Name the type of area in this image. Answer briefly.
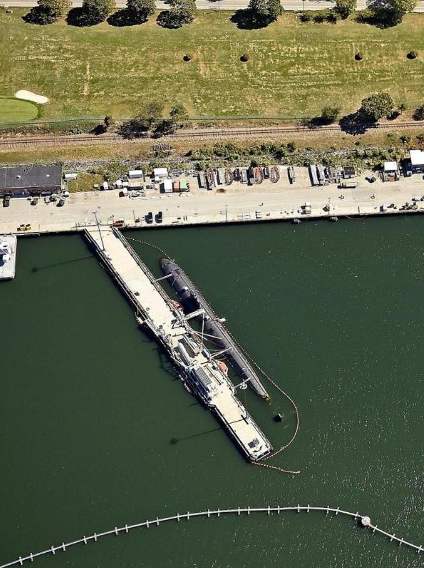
port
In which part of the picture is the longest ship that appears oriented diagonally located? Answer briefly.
center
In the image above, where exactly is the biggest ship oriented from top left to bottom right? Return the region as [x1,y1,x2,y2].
[162,260,280,420]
